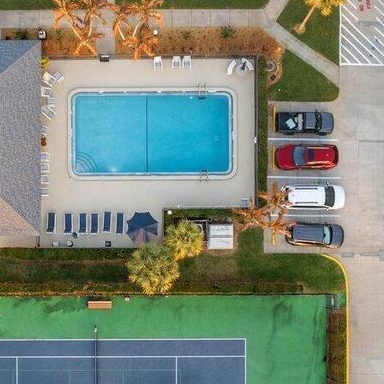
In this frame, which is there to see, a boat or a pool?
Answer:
pool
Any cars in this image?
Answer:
Yes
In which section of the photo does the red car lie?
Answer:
right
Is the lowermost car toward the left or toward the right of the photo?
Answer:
right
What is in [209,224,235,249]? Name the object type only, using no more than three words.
shed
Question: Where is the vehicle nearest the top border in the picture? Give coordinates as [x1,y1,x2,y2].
[275,106,335,134]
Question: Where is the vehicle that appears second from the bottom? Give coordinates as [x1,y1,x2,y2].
[282,181,345,211]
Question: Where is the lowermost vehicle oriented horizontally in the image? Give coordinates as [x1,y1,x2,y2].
[285,220,343,249]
